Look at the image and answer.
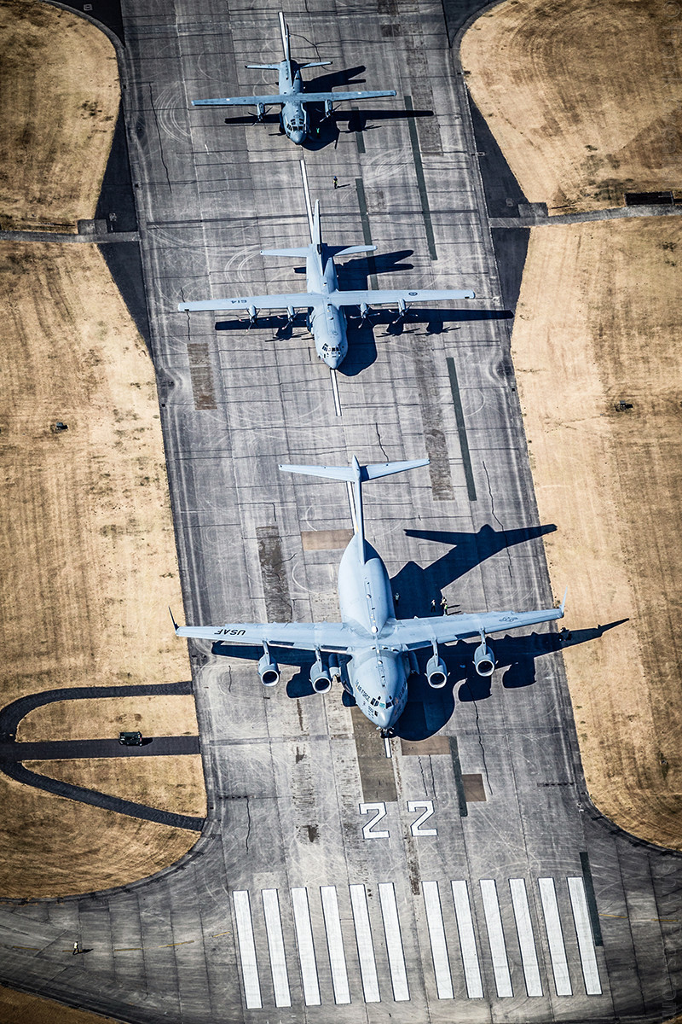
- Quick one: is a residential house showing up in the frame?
No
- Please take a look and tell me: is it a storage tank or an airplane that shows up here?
airplane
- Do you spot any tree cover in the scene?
No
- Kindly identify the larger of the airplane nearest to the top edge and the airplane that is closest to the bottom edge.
the airplane that is closest to the bottom edge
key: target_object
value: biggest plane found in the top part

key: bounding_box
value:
[177,197,475,373]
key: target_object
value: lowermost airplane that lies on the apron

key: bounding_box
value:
[167,453,569,737]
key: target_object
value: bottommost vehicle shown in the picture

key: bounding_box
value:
[116,728,143,745]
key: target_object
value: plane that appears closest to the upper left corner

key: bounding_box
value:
[191,21,397,147]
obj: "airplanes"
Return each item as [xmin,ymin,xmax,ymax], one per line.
[167,453,569,737]
[177,197,475,373]
[191,21,397,147]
